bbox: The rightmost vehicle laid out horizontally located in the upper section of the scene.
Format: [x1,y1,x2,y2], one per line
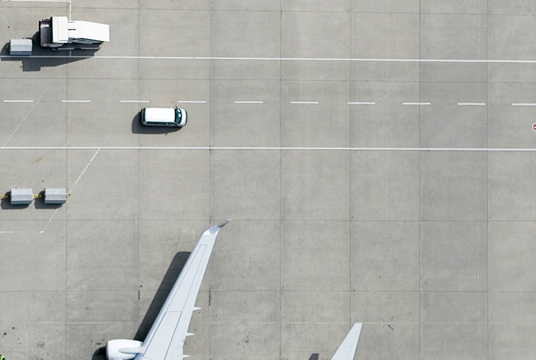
[141,106,188,129]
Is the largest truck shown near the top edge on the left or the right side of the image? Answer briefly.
left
